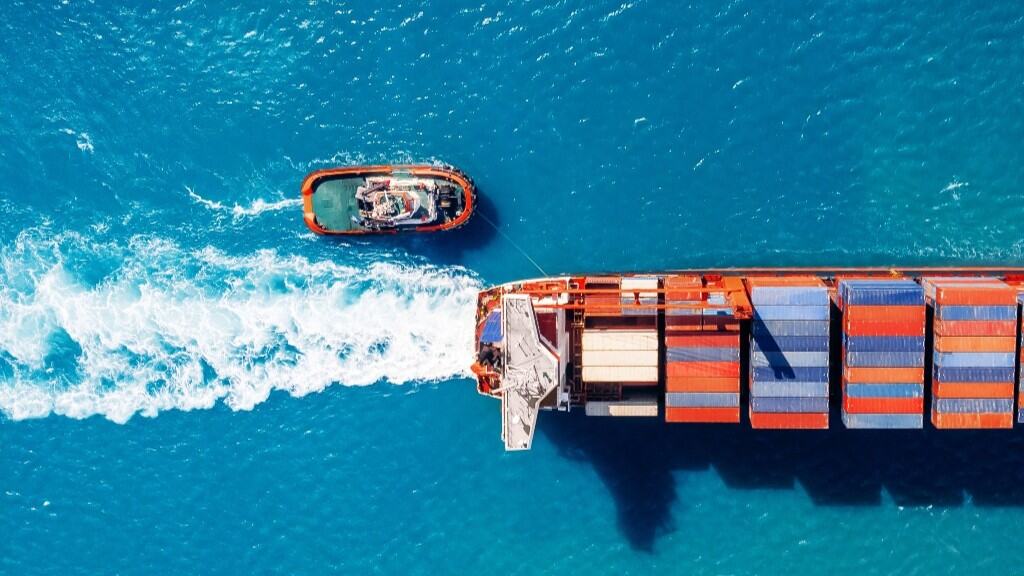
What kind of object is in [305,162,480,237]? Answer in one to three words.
boat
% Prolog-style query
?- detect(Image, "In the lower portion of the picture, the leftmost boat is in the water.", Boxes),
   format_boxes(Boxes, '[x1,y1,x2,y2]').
[471,362,487,374]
